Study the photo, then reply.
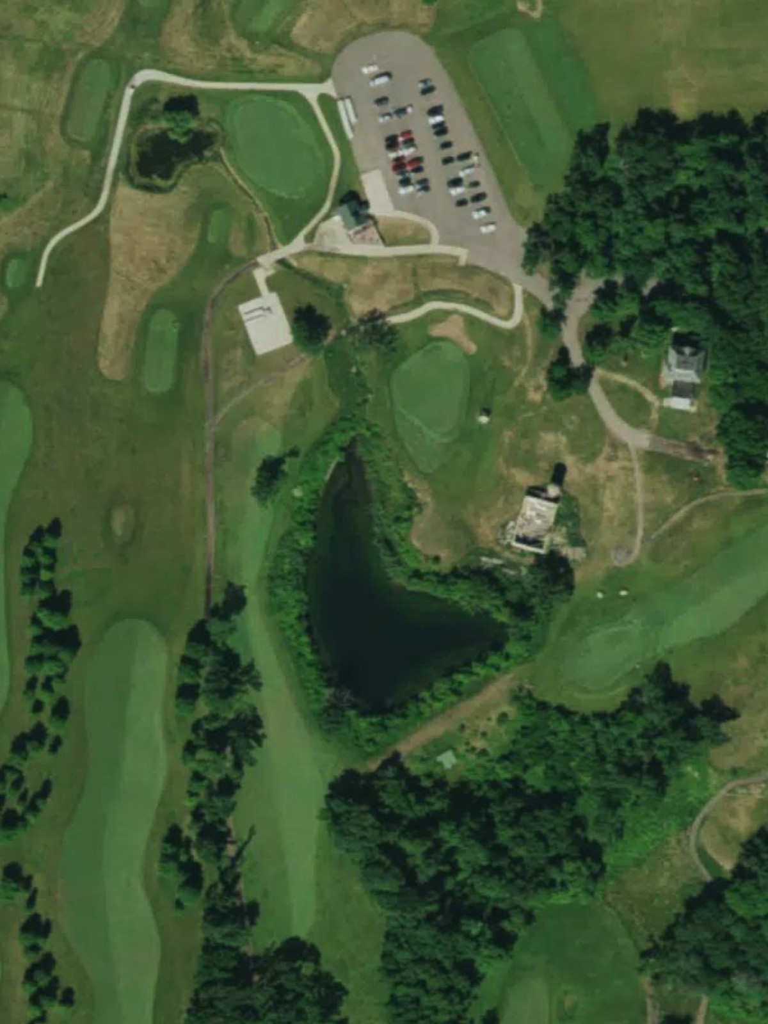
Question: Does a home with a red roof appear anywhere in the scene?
No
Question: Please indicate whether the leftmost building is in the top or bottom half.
top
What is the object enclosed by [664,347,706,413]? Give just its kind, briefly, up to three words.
house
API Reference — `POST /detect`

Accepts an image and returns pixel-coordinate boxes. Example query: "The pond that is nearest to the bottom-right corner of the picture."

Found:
[307,436,509,711]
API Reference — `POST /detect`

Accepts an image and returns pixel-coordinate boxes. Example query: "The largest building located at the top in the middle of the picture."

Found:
[339,198,370,234]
